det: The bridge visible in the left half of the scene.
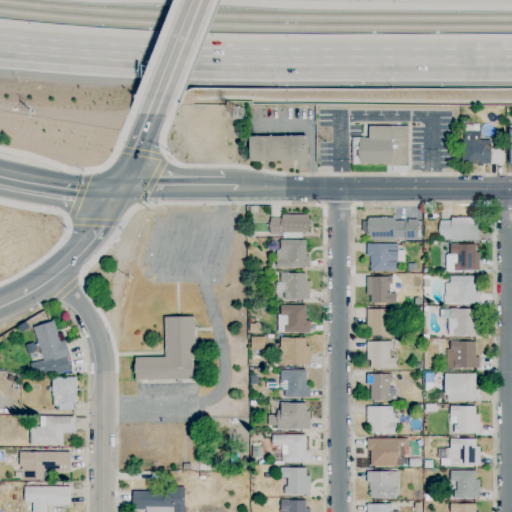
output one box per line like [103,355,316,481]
[126,0,220,118]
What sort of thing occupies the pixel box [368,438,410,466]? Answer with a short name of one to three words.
house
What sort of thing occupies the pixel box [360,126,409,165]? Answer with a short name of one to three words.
building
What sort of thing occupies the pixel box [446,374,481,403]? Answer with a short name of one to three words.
house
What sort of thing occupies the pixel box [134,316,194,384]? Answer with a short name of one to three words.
building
